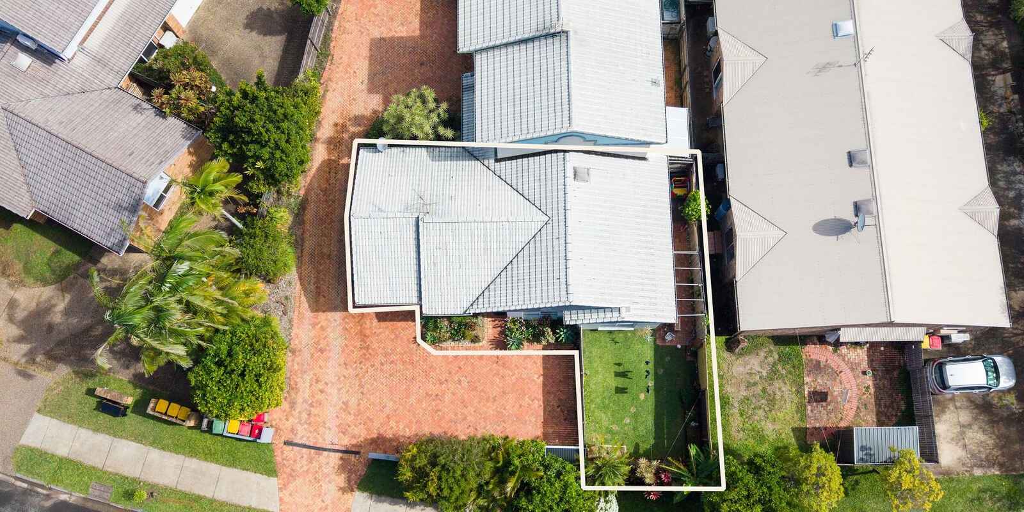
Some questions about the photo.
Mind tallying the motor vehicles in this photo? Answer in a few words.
one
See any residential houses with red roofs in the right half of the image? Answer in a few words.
No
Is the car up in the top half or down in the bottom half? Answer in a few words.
bottom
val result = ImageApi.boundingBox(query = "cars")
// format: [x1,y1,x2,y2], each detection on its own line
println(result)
[920,352,1016,396]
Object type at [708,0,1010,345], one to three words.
house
